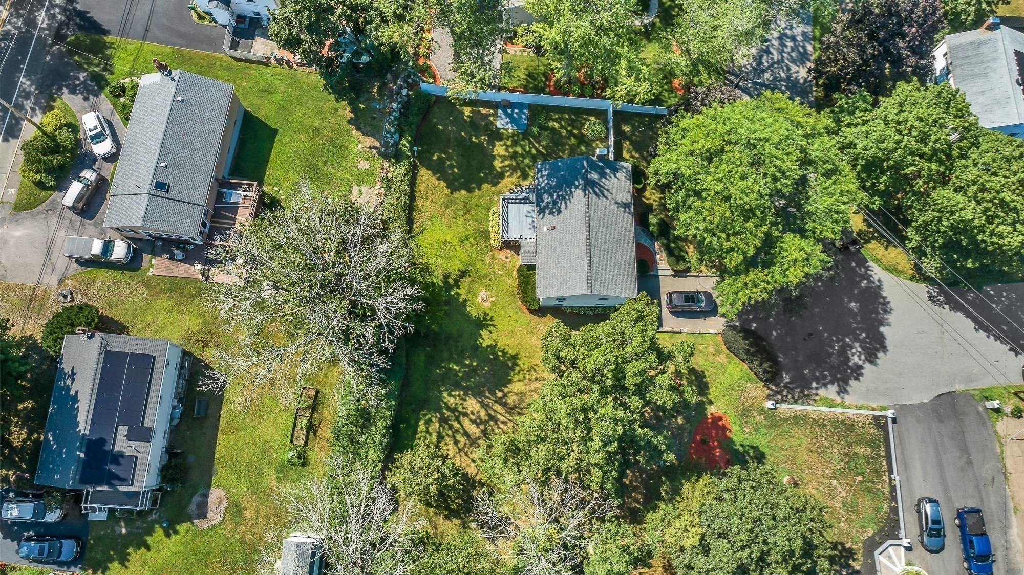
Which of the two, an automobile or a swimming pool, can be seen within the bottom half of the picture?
automobile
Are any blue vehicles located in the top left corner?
No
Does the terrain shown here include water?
No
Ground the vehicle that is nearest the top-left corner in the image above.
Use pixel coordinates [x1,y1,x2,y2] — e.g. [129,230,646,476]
[83,112,119,159]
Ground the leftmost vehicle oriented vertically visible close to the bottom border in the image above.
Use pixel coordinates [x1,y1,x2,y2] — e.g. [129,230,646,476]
[913,495,947,553]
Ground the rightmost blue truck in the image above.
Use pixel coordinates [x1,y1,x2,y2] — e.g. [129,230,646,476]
[953,506,995,575]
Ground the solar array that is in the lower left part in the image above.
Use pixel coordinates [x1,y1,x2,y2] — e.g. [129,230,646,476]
[82,351,156,486]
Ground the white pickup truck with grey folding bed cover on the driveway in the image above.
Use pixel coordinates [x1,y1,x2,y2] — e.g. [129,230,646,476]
[66,237,132,263]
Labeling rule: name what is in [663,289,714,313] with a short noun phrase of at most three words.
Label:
car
